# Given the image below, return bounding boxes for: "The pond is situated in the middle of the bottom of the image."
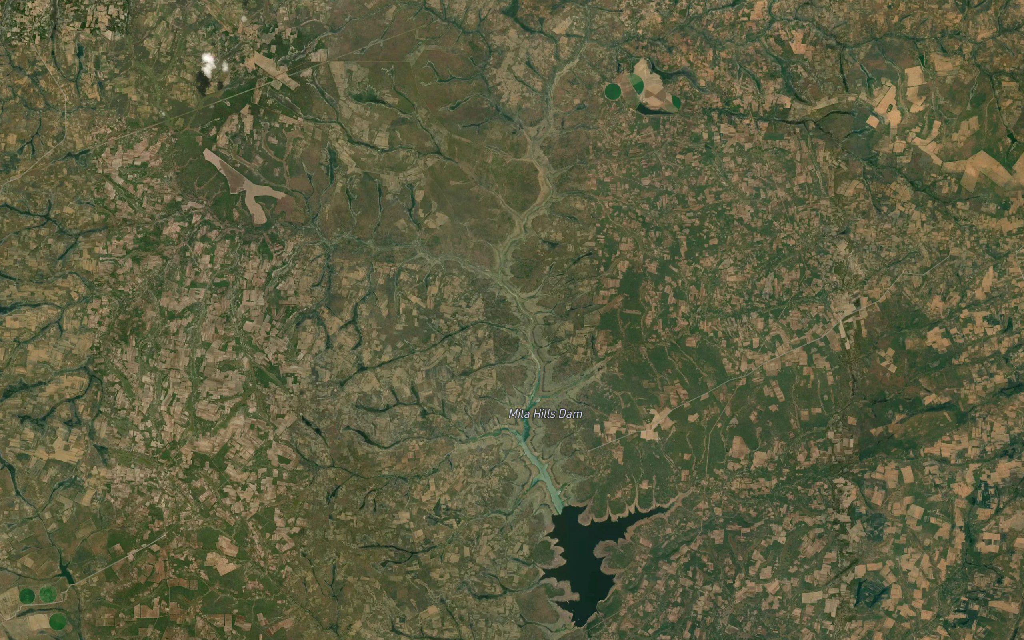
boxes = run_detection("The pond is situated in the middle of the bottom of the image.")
[540,504,673,627]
